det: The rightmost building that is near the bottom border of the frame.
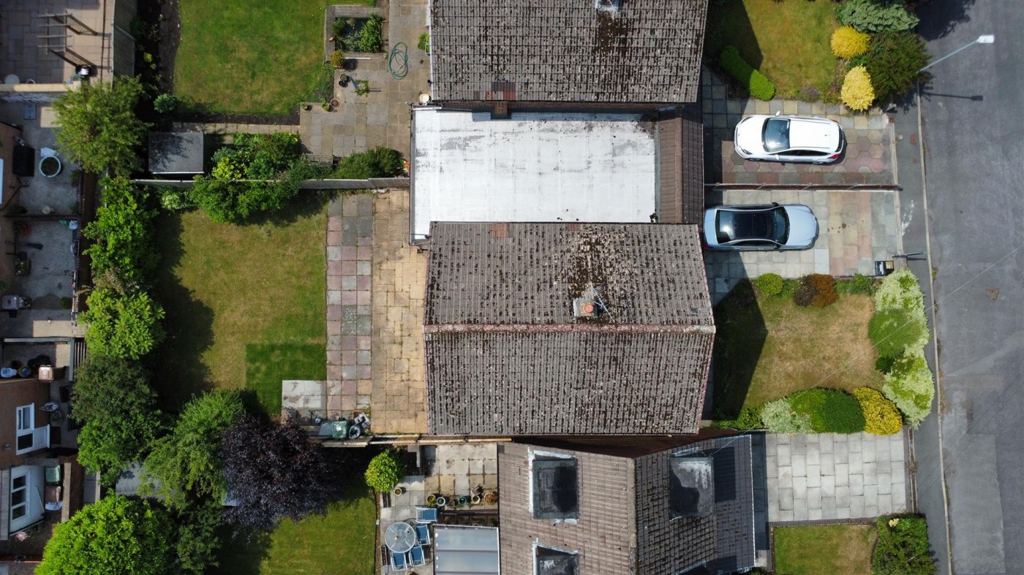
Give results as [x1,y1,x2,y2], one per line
[495,427,754,575]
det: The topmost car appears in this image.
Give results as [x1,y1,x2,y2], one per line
[733,109,845,166]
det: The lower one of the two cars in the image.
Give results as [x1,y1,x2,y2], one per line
[702,198,817,255]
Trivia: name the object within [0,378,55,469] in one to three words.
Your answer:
house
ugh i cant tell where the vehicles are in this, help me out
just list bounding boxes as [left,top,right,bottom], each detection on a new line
[733,109,845,166]
[702,198,817,255]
